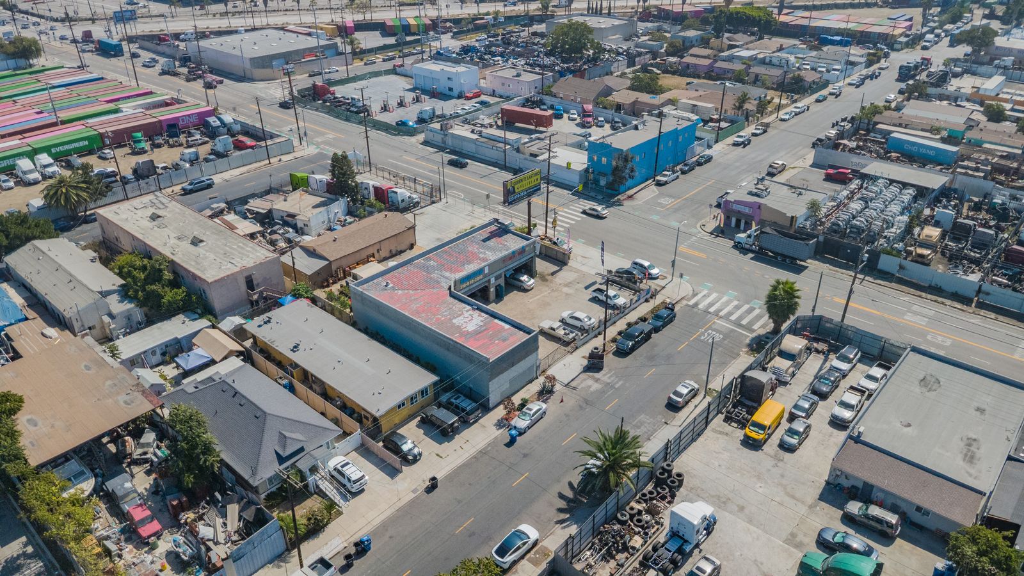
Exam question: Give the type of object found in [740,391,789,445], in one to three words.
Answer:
van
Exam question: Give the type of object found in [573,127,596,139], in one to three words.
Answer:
vehicle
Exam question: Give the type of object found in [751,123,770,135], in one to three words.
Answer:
vehicle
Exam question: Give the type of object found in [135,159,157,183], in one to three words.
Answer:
truck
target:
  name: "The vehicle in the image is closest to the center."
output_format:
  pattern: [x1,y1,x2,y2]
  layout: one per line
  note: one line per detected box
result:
[502,271,537,290]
